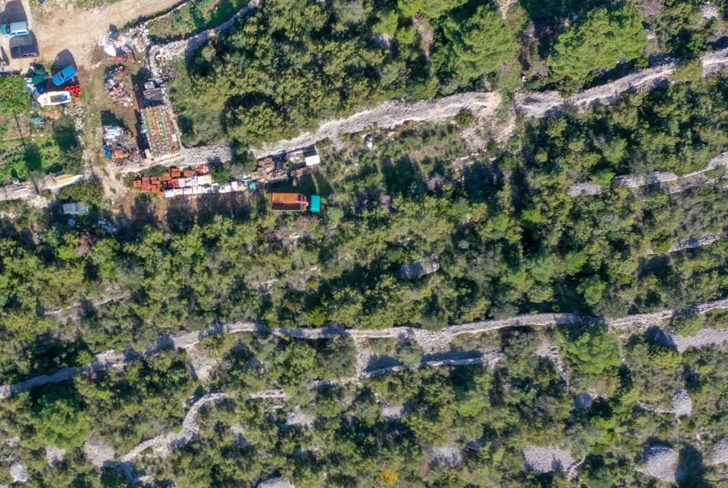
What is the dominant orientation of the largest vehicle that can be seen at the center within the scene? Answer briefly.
horizontally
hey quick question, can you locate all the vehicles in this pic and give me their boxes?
[10,42,41,59]
[0,22,30,39]
[267,193,323,213]
[50,62,79,89]
[60,201,90,215]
